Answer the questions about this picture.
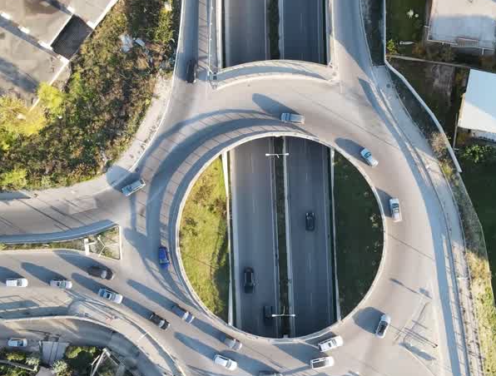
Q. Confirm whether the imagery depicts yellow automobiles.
No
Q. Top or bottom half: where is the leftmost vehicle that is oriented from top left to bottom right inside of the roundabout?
bottom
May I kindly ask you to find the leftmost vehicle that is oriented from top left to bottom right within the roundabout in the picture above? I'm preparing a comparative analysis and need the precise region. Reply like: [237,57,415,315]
[148,310,172,330]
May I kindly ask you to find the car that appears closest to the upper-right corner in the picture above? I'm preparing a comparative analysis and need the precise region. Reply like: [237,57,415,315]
[359,147,378,166]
